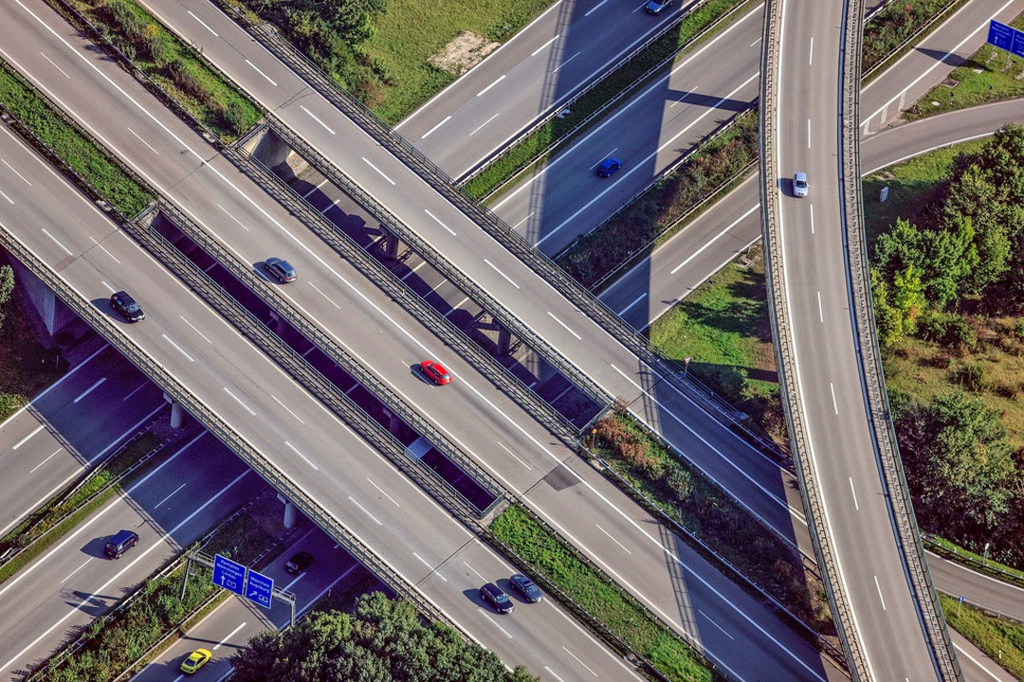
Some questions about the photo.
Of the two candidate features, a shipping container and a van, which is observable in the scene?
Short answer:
van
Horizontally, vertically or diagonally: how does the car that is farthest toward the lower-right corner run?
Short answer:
diagonally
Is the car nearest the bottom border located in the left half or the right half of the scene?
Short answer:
left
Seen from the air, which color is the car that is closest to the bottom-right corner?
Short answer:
blue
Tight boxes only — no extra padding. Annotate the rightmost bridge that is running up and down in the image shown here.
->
[755,0,966,682]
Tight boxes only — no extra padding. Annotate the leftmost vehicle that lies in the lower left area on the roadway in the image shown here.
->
[107,527,144,558]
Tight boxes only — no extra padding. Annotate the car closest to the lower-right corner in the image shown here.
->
[509,576,545,607]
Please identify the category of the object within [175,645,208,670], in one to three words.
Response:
car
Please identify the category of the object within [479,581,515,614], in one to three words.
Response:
car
